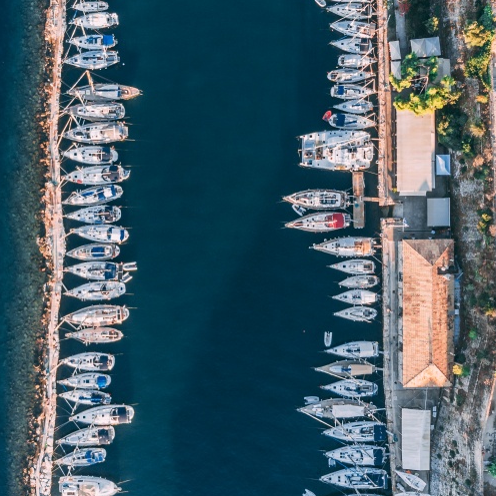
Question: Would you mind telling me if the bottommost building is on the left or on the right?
right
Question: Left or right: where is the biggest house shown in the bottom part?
right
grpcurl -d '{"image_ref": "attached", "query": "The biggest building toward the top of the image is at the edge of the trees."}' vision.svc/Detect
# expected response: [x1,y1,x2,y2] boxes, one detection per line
[391,109,435,196]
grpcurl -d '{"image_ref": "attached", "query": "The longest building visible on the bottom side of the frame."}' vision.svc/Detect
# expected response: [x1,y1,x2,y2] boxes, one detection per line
[399,236,460,388]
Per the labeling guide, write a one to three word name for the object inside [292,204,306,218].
boat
